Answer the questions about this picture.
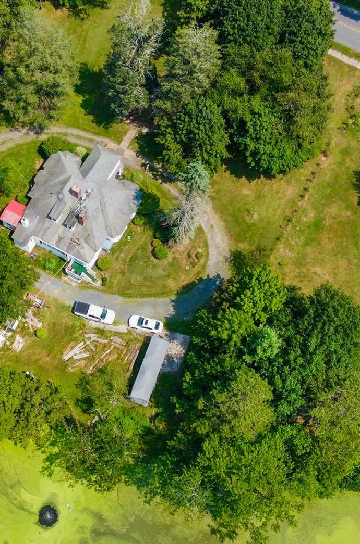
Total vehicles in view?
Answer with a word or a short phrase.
2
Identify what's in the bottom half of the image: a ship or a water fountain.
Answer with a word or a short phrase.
water fountain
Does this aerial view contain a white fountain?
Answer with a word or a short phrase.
No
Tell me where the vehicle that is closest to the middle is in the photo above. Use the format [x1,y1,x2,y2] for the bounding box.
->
[127,316,165,336]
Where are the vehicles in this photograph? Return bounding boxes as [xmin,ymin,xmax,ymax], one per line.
[127,316,165,336]
[71,302,117,324]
